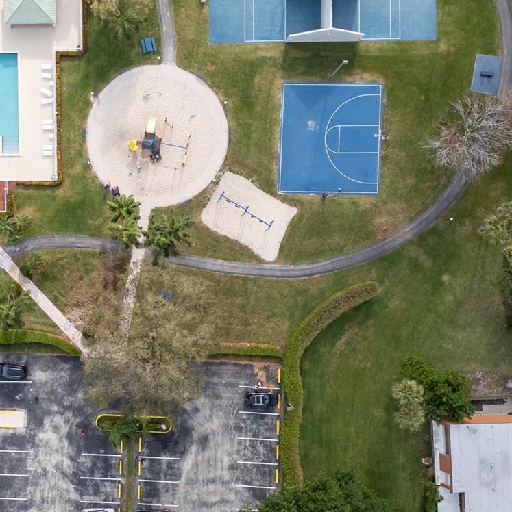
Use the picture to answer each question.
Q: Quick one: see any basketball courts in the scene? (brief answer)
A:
Yes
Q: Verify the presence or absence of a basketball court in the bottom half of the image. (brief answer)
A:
No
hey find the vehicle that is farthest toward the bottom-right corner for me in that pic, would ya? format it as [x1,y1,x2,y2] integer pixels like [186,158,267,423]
[244,392,280,410]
